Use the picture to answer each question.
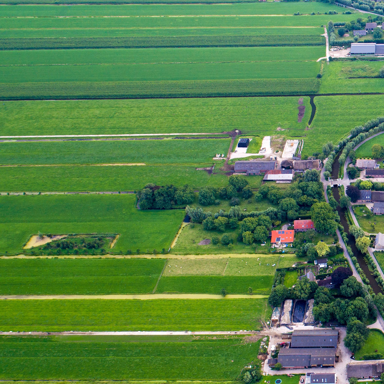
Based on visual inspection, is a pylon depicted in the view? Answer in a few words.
No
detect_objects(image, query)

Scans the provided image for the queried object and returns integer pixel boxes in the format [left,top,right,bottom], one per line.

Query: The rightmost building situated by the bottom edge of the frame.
[348,362,384,380]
